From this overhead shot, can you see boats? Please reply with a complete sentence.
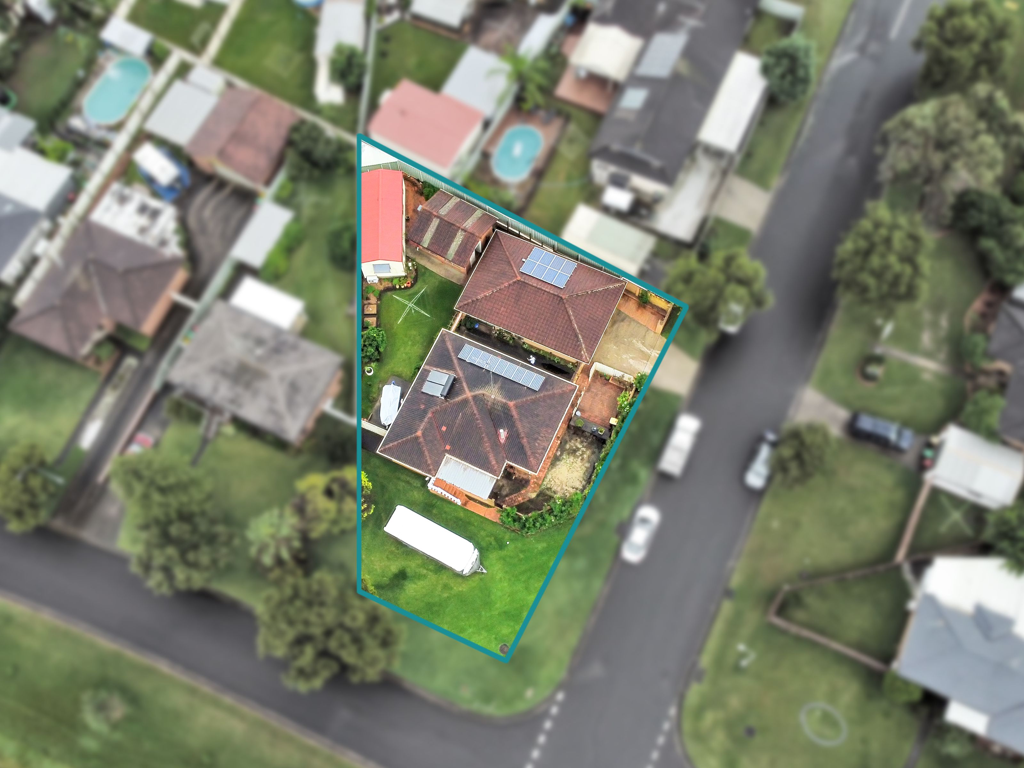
Yes, this view includes a boat.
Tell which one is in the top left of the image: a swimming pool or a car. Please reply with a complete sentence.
The one visible in the top left of the image is a swimming pool.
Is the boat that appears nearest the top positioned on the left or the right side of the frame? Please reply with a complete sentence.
The boat that appears nearest the top is on the left side of the image.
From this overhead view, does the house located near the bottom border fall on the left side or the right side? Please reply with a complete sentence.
The house located near the bottom border is on the right side of the image.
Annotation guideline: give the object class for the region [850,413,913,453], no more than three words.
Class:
car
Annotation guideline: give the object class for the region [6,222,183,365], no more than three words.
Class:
house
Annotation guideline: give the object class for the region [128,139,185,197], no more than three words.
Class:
boat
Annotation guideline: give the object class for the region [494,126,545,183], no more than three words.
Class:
swimming pool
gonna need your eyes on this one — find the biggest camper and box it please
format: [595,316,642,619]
[385,507,487,573]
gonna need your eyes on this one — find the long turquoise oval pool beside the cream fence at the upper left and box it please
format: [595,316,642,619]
[84,60,155,122]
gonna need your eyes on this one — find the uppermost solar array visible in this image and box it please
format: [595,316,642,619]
[520,248,577,289]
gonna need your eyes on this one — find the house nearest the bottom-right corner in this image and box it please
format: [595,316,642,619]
[888,588,1024,759]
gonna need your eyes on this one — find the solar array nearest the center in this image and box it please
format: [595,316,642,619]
[458,344,545,391]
